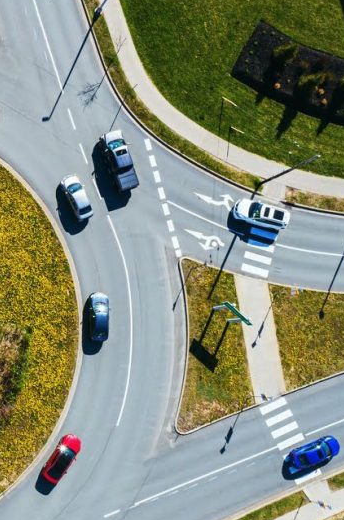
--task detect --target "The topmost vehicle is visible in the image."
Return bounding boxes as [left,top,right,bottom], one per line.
[103,132,139,191]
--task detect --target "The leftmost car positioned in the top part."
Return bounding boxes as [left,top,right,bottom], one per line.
[60,177,93,222]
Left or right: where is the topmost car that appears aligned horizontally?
right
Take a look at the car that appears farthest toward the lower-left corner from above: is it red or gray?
red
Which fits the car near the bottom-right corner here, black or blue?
blue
